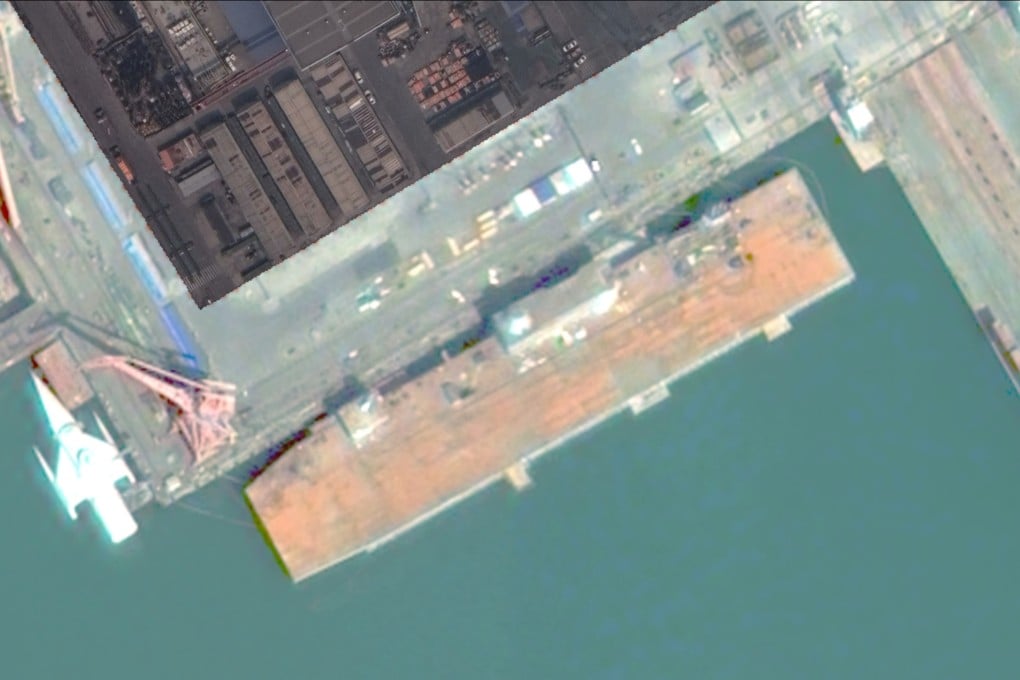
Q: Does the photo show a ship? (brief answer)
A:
Yes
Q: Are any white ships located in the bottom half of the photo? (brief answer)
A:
Yes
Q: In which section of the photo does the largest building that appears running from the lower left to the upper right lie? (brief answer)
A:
top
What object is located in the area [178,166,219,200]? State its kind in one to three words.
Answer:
shed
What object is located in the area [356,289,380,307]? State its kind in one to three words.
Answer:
vehicle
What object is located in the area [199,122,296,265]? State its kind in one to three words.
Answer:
building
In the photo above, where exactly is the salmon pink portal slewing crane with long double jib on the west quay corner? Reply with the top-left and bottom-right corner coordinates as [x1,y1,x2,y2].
[80,353,242,467]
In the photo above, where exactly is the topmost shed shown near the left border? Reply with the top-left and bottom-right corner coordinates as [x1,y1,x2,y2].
[37,82,81,151]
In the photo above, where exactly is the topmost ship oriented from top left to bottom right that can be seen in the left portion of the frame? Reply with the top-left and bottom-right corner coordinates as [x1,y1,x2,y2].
[34,340,94,410]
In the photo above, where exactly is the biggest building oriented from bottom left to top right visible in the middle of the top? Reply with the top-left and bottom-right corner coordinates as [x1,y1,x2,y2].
[432,94,515,158]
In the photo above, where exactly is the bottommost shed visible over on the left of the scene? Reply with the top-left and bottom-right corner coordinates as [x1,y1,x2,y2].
[162,302,201,366]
